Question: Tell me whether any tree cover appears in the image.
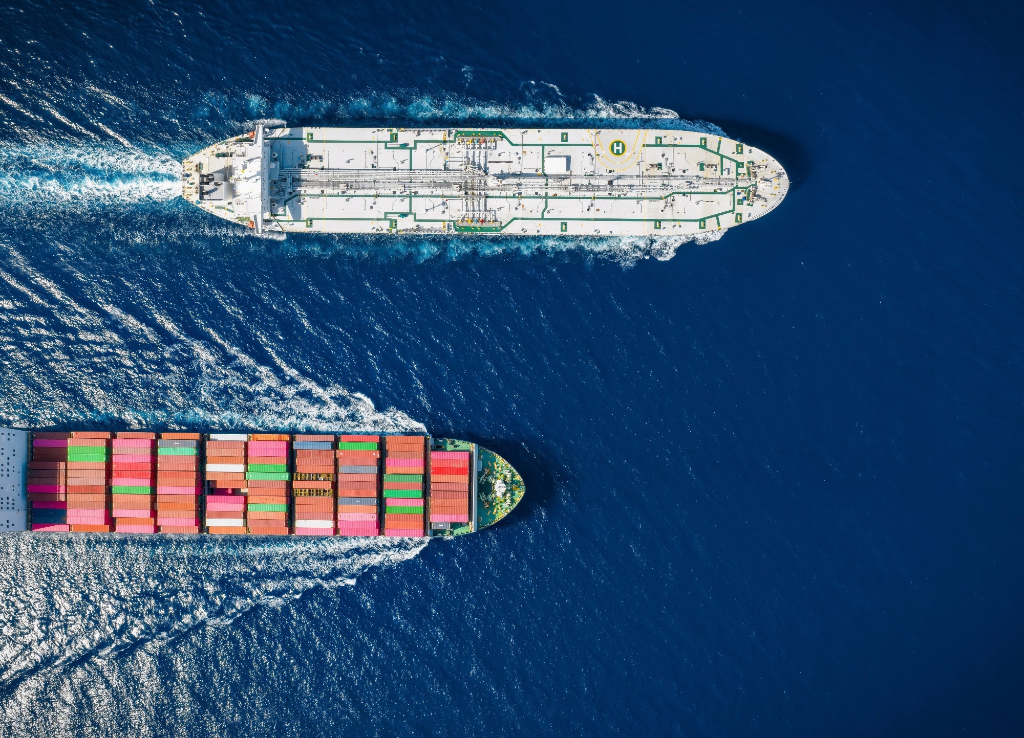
No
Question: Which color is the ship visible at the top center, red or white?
white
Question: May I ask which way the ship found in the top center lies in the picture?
horizontally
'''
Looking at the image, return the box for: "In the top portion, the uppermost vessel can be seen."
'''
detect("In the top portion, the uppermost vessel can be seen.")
[181,123,791,239]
